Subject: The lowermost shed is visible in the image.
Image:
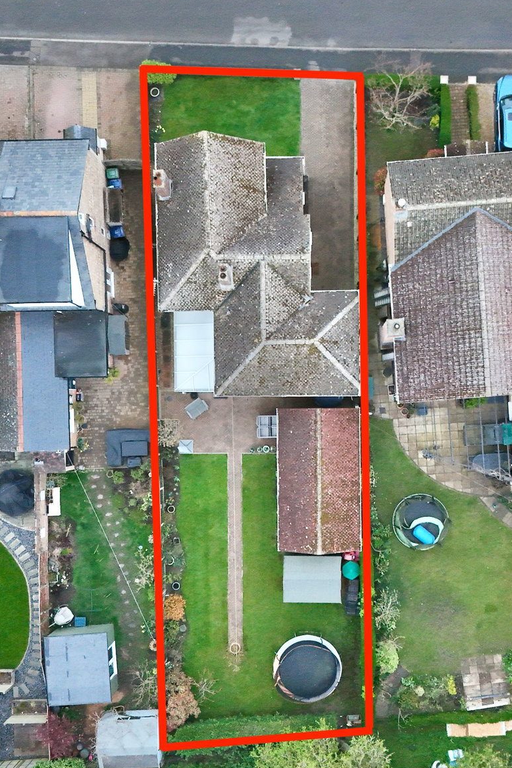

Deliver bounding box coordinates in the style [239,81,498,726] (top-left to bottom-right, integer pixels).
[95,705,164,768]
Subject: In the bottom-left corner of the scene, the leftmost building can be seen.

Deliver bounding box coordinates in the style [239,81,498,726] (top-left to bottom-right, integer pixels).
[43,625,117,708]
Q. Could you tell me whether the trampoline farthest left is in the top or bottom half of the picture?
bottom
